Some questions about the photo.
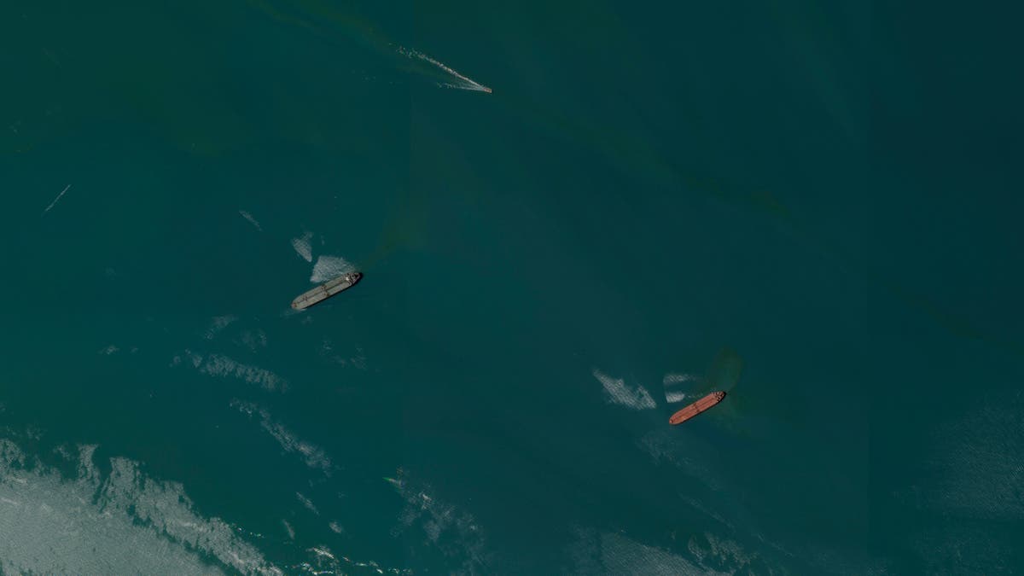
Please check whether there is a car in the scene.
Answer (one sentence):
No, I can't see a single car in this photo.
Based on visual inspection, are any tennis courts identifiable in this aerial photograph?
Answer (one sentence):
No, the frame has no tennis court in it.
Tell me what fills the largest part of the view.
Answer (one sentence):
What you mostly see from above here is water.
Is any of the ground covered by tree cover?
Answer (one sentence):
No, tree cover can't be seen anywhere here.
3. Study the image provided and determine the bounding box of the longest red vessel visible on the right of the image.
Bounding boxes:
[669,392,725,424]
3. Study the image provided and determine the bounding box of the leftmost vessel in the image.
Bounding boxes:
[291,273,361,308]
